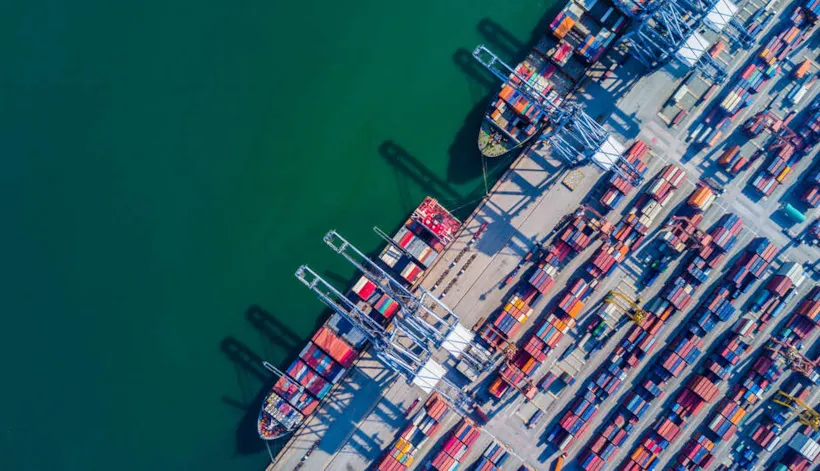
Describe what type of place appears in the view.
port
